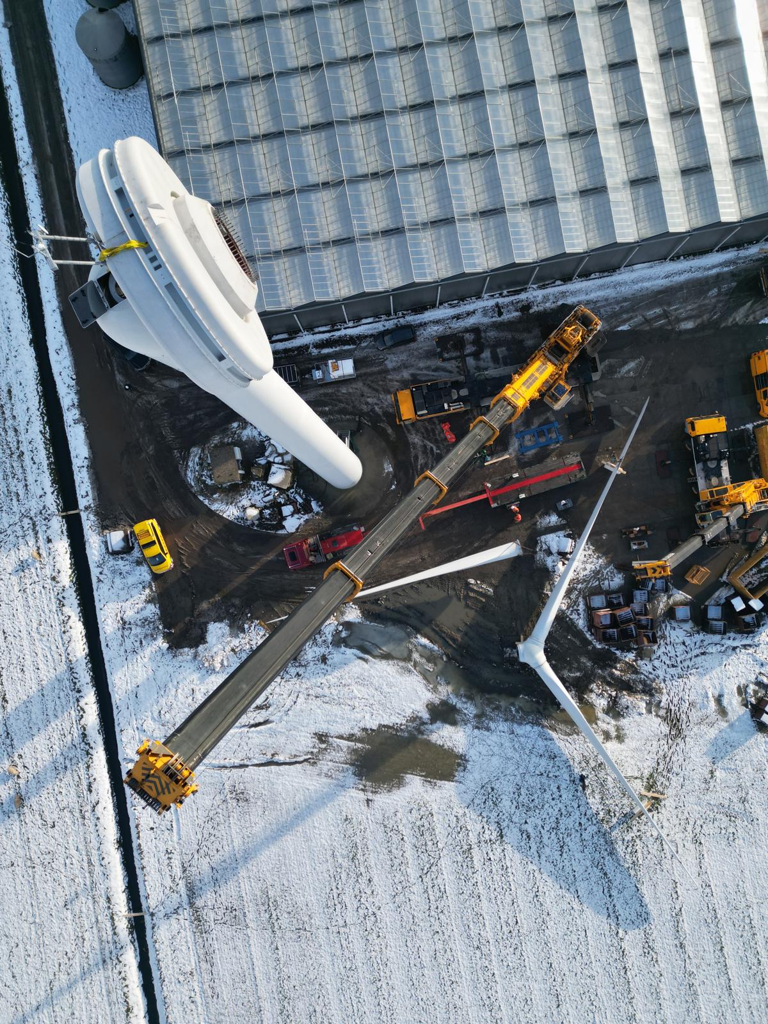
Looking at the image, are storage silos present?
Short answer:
Yes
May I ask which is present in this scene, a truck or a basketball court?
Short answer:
truck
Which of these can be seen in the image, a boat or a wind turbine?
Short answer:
wind turbine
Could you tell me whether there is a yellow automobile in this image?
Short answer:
Yes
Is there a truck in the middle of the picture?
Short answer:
Yes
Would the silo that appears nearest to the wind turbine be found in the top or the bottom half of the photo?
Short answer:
top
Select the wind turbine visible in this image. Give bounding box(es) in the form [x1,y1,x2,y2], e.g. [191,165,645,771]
[7,136,359,486]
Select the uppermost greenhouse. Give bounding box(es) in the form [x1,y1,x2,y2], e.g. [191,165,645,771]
[132,0,768,341]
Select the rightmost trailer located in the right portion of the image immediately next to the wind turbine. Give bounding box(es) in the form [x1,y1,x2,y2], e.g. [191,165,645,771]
[421,450,589,530]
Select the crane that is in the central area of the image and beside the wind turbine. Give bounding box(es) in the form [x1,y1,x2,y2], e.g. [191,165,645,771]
[118,301,609,814]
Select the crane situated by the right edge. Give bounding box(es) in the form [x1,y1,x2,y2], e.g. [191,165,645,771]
[632,411,768,578]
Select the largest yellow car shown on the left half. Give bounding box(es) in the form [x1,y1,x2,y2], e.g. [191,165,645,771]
[130,518,171,573]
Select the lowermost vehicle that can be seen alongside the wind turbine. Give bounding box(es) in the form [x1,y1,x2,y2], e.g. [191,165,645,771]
[285,513,383,571]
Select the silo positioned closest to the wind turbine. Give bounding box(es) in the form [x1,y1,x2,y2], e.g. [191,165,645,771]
[75,3,143,87]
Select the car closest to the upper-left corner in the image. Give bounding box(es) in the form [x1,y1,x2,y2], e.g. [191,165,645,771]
[98,333,149,374]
